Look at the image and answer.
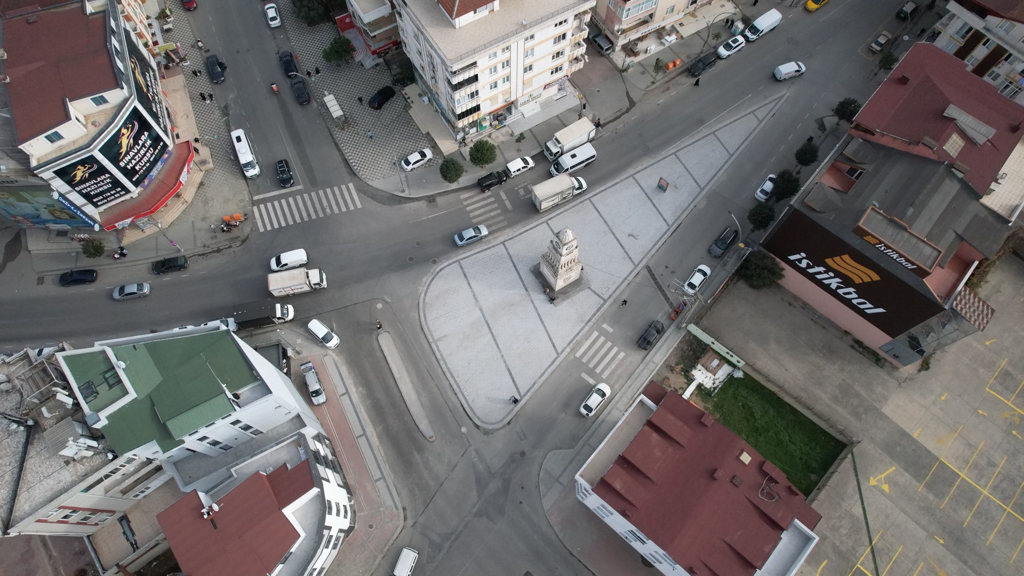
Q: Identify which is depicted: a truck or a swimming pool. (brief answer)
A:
truck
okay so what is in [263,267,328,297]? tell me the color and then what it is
white truck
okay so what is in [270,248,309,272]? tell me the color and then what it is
white vehicle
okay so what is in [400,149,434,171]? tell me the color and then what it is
white car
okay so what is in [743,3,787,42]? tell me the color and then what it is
white van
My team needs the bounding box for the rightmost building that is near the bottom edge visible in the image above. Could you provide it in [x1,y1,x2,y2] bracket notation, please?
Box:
[566,381,821,576]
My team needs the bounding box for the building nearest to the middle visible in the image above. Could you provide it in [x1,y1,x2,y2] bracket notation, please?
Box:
[530,228,591,307]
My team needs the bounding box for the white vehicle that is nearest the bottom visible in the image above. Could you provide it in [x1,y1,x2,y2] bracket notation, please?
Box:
[391,535,427,576]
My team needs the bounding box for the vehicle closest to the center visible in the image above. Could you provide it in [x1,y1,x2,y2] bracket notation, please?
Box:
[454,226,489,248]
